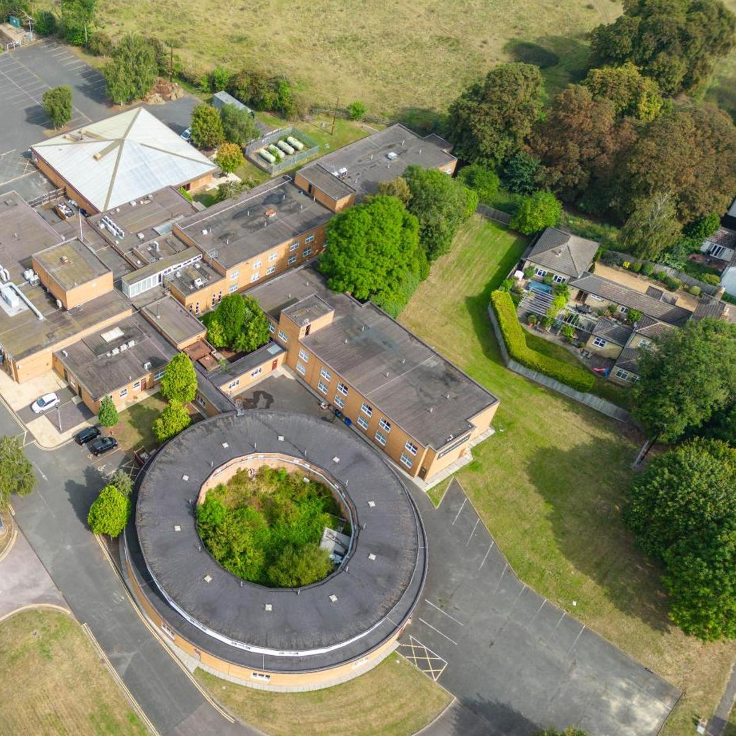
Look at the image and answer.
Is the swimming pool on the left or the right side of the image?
right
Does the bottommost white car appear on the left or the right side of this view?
left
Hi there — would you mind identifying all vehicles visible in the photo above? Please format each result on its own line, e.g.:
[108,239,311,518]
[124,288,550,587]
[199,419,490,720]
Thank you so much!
[68,424,104,448]
[180,126,193,143]
[84,433,122,458]
[28,390,62,413]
